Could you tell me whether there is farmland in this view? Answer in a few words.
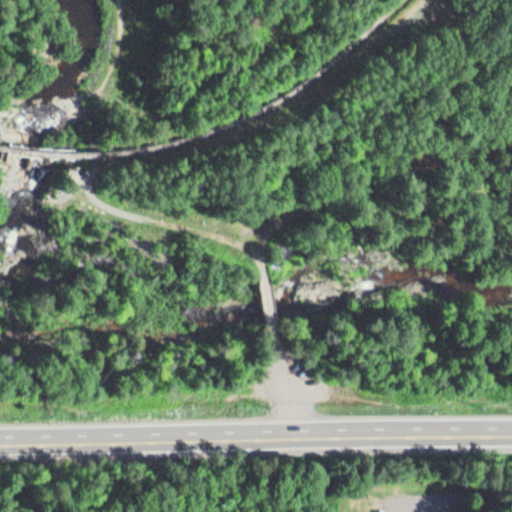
No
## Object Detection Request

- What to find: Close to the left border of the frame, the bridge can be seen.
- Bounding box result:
[0,144,78,164]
